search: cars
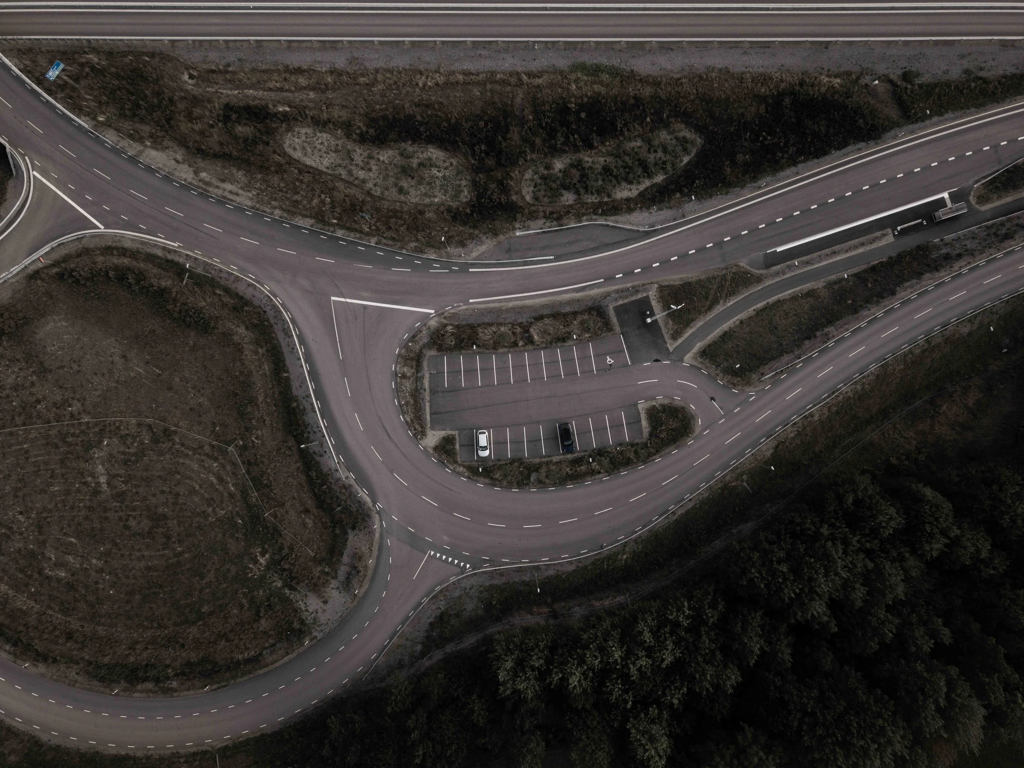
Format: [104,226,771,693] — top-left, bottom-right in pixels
[477,430,490,457]
[559,423,575,452]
